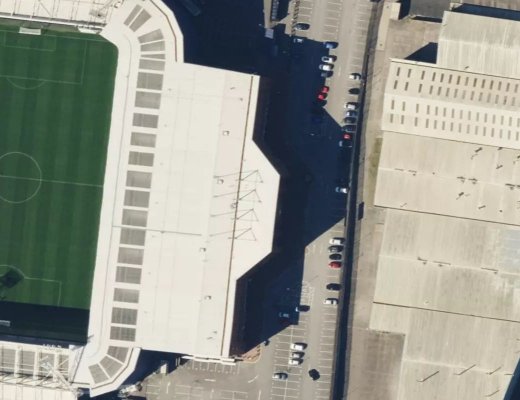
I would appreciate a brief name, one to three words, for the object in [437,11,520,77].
building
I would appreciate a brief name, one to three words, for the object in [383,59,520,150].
building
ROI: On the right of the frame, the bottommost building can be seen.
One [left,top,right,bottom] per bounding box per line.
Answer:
[370,302,520,400]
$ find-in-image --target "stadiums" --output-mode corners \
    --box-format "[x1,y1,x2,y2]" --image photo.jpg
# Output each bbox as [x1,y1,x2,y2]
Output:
[0,0,289,400]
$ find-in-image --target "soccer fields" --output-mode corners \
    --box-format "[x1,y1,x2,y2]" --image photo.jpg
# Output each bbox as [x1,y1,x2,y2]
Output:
[0,14,118,349]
